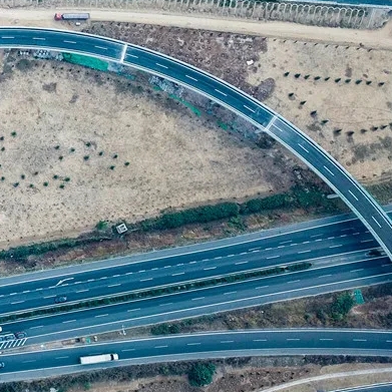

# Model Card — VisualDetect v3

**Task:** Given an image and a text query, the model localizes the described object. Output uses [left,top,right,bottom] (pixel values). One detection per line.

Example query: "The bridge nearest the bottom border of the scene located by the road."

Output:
[0,26,392,262]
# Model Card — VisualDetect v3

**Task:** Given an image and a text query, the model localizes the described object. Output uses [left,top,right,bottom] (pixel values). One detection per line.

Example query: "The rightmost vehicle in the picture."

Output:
[79,351,120,364]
